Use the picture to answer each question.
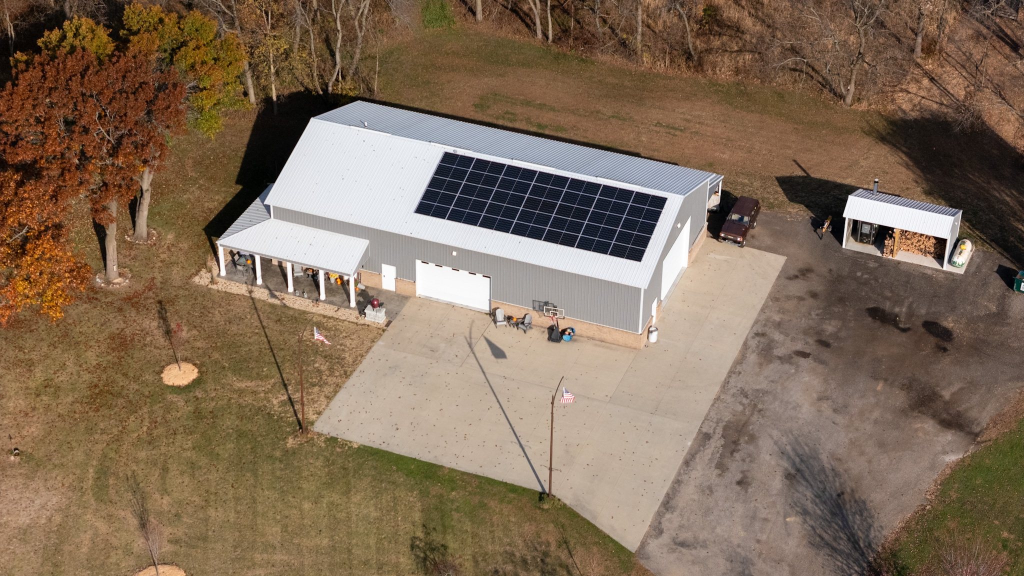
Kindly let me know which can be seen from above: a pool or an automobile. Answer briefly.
automobile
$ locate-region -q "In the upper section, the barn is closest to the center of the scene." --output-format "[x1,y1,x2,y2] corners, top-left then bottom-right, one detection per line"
[213,102,724,350]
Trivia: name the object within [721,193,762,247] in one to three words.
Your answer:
car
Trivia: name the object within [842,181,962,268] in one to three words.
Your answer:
shed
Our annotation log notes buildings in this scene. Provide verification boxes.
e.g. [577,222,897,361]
[213,102,724,350]
[842,181,962,268]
